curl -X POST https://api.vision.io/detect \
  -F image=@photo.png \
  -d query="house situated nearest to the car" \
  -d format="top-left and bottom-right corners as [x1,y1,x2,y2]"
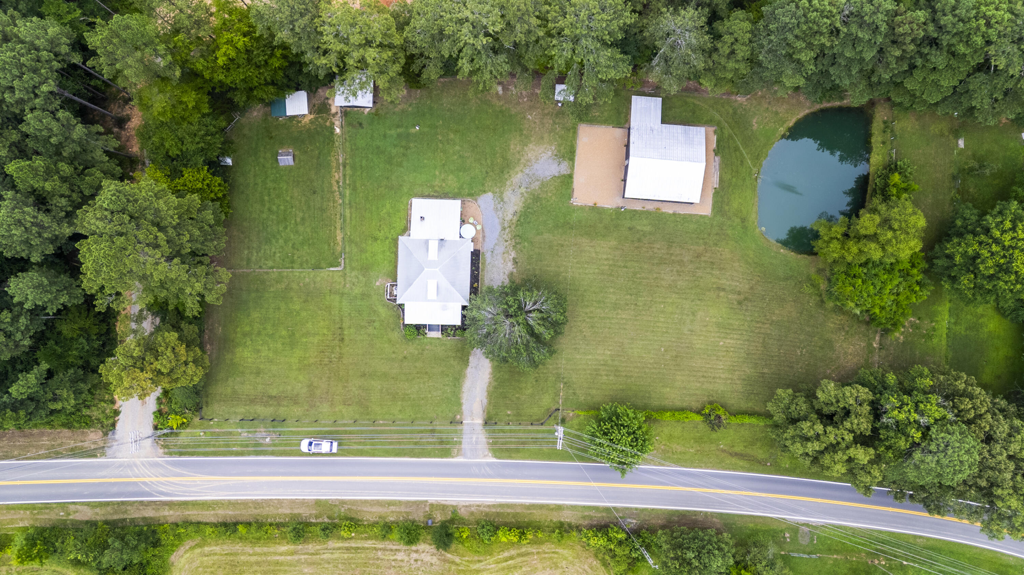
[396,198,474,332]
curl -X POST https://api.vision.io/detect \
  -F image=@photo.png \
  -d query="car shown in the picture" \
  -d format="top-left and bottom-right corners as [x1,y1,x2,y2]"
[301,438,338,456]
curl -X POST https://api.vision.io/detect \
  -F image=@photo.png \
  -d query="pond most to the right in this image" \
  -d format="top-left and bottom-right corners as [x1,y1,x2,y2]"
[756,106,871,255]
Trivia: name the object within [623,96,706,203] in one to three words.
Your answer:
barn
